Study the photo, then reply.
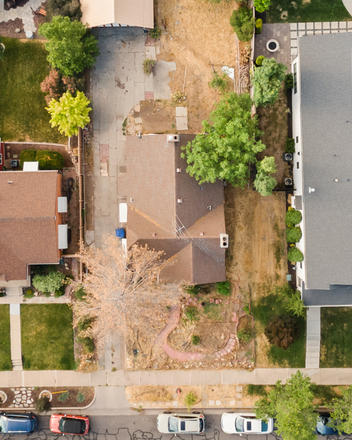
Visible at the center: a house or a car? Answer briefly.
house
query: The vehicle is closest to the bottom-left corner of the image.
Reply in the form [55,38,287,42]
[0,409,39,436]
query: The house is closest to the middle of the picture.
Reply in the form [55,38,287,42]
[118,134,228,284]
